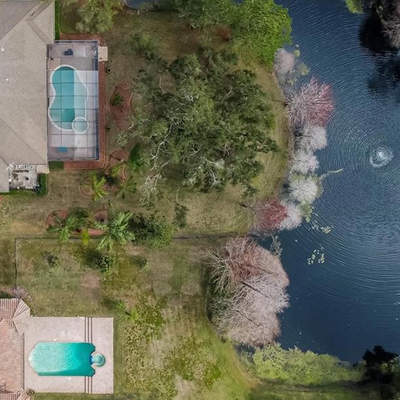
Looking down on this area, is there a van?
No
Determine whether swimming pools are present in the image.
Yes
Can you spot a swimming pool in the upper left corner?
Yes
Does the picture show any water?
Yes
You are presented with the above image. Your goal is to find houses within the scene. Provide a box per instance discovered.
[0,298,31,400]
[0,0,55,193]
